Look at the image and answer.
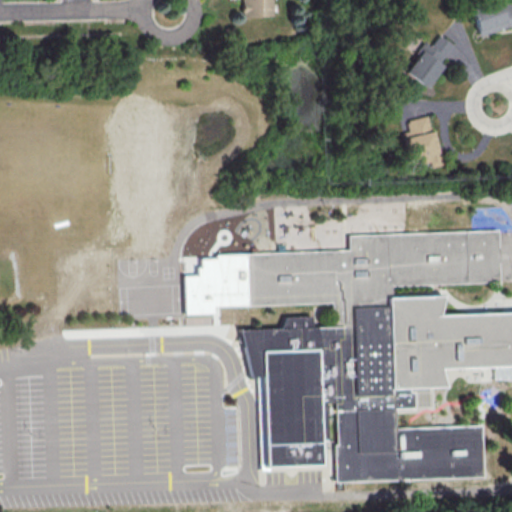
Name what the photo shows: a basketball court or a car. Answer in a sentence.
The one in the frame is a basketball court.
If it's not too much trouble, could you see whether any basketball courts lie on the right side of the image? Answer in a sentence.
No, on the right side of the image there is no basketball court.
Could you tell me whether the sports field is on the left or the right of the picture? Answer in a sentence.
The sports field appears in the left half of the scene.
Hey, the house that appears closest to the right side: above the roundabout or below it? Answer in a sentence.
The house that appears closest to the right side is found above the roundabout in the photo.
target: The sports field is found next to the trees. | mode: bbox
[0,101,112,298]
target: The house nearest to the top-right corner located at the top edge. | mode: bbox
[478,4,512,40]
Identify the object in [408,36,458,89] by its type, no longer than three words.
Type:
house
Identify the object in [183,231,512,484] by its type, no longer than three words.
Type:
building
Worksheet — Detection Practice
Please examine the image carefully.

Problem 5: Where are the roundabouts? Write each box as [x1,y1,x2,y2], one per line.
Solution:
[466,66,512,135]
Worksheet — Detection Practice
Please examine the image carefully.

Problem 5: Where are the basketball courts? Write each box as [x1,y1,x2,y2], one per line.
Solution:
[118,256,183,319]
